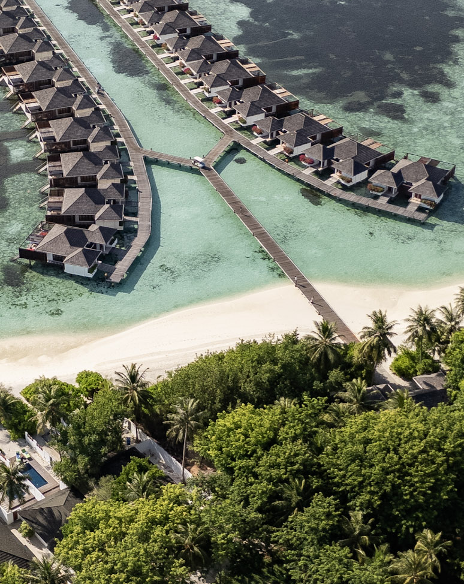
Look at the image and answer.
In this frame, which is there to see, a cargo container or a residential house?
residential house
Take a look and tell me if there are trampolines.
No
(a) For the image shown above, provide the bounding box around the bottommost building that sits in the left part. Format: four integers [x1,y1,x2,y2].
[5,219,121,285]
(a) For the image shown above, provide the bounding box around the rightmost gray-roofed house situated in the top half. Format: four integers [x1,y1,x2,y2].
[368,151,457,215]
